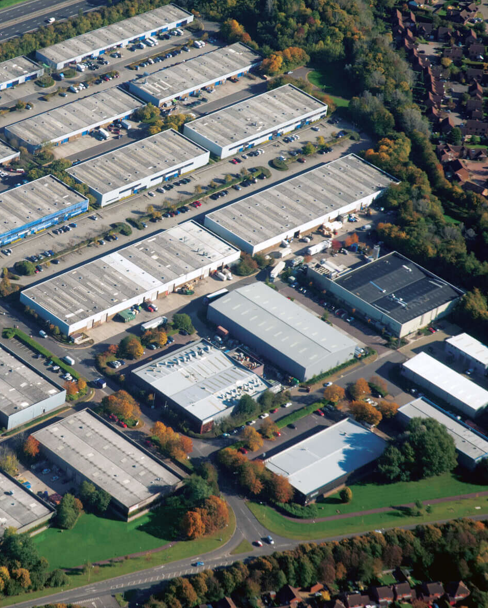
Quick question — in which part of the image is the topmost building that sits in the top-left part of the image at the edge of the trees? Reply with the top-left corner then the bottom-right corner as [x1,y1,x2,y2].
[36,3,193,69]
